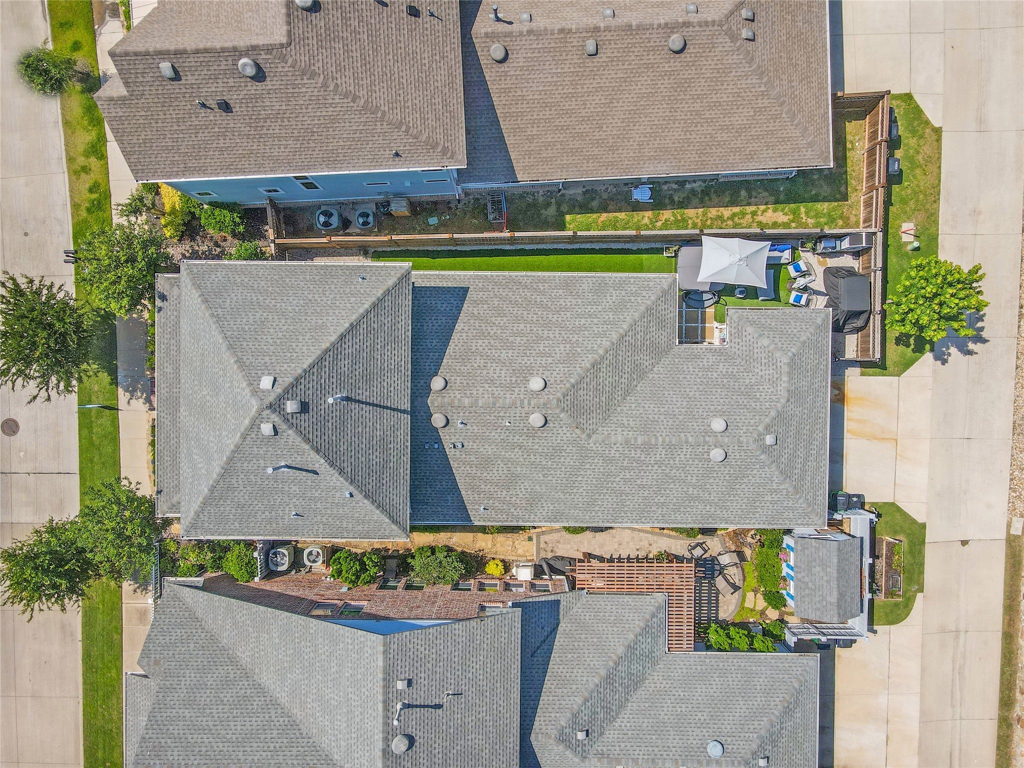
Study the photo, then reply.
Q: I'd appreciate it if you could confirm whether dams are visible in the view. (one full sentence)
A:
No, no dam is visible in the scene.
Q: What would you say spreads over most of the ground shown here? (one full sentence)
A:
What you mostly see from above here is buildings.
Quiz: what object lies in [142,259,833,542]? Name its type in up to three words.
house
